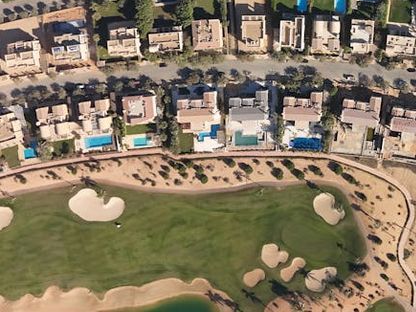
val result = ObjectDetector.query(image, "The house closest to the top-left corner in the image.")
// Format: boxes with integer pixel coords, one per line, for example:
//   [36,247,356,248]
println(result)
[5,39,44,75]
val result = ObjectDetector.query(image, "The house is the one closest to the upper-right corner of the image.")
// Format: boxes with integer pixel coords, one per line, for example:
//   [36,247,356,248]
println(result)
[387,34,416,56]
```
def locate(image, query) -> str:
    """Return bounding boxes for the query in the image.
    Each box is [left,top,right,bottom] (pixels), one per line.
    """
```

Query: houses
[387,34,416,56]
[312,15,341,54]
[341,95,383,132]
[350,20,375,53]
[5,39,44,75]
[242,15,267,47]
[389,106,416,141]
[149,30,185,51]
[228,91,271,129]
[0,109,27,140]
[80,98,115,132]
[109,27,143,56]
[53,30,93,67]
[283,91,324,129]
[177,92,219,130]
[192,19,224,51]
[279,16,307,49]
[37,103,72,138]
[121,94,158,124]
